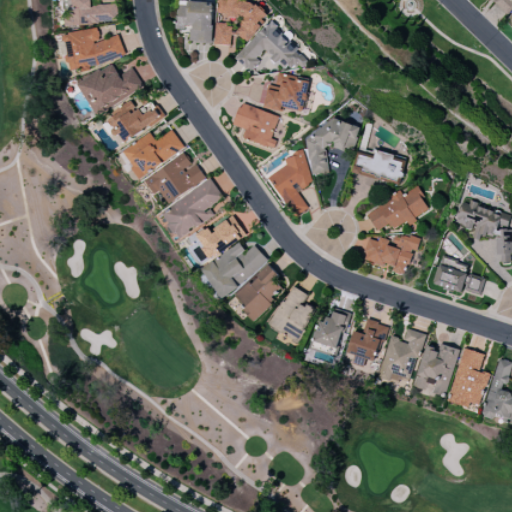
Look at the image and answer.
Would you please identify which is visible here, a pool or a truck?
pool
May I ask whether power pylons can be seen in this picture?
No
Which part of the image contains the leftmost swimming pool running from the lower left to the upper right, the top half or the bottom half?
top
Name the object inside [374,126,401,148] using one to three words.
swimming pool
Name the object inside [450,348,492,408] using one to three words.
house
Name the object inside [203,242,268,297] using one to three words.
house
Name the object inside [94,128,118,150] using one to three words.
swimming pool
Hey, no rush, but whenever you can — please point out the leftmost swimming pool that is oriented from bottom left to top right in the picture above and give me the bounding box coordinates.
[262,151,290,174]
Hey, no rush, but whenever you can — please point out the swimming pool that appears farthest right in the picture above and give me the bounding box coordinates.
[469,184,496,200]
